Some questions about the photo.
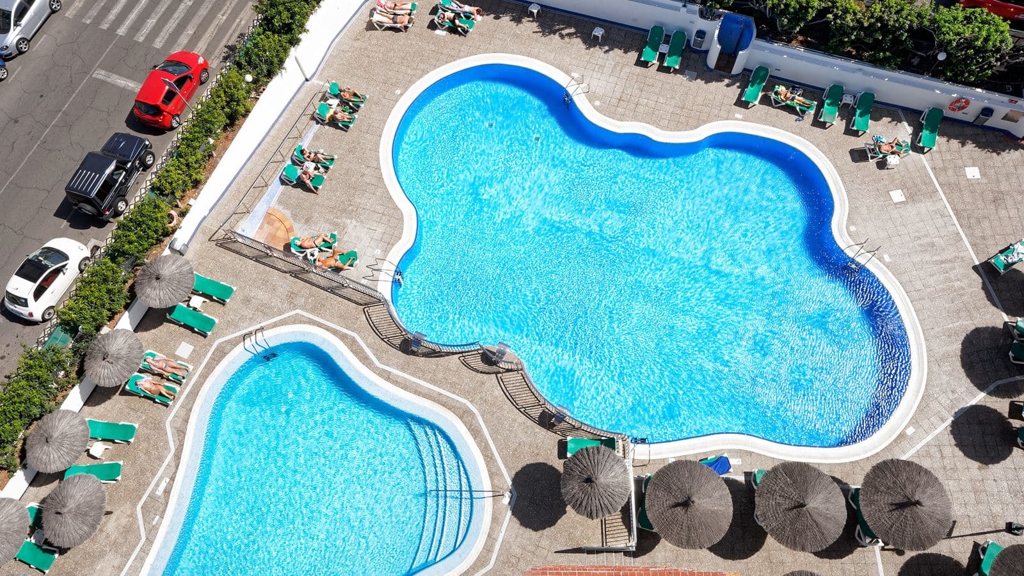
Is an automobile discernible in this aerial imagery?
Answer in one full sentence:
Yes, there is an automobile in the image.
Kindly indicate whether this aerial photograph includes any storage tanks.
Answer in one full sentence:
No, the picture doesn't show any storage tank.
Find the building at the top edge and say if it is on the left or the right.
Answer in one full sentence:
It is on the right.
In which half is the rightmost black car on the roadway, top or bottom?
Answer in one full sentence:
It is in the top half that the rightmost black car on the roadway appears.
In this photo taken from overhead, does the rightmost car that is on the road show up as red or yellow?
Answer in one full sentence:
From above, the rightmost car that is on the road appears red.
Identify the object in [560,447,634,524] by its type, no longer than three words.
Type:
umbrella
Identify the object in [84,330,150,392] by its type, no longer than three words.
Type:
umbrella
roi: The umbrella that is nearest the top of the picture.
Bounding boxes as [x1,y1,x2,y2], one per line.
[134,254,194,311]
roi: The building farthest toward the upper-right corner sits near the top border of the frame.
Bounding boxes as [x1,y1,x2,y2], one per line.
[708,9,762,78]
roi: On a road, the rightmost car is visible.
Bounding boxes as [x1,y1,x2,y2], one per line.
[128,52,209,133]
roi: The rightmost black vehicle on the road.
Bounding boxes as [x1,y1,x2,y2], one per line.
[64,136,154,215]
